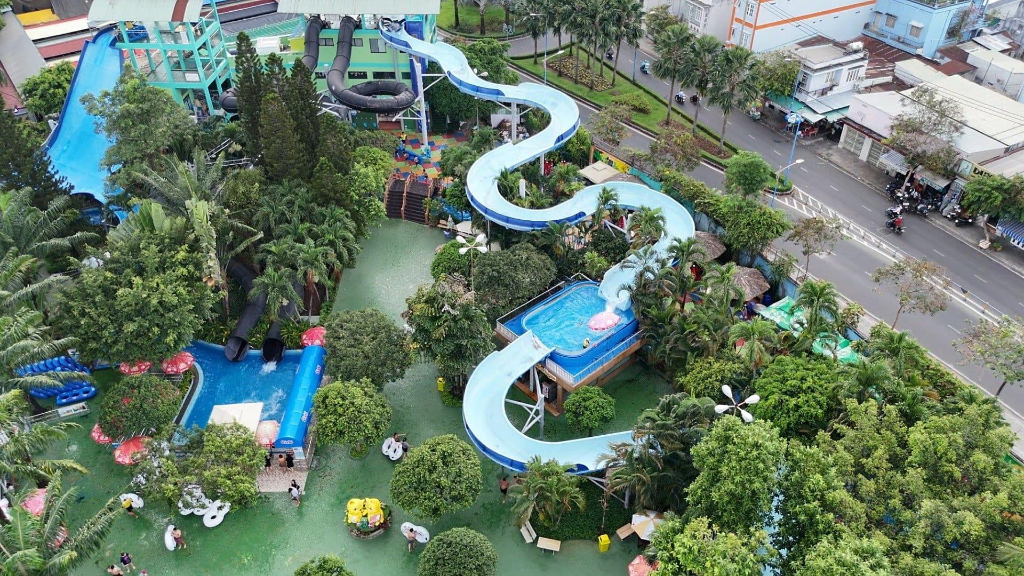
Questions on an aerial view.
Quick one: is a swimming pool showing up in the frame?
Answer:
Yes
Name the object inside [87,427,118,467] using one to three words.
umbrella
